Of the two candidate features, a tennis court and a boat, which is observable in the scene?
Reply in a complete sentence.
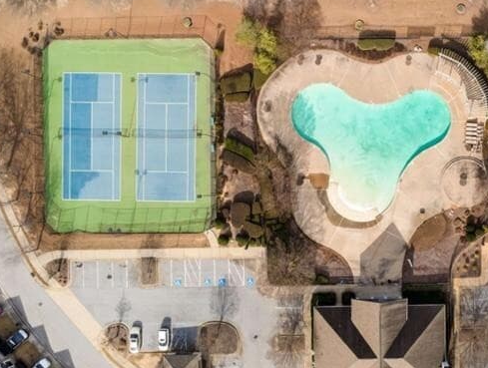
Visible in the photo is a tennis court.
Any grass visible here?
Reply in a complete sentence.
Yes, there is grass in the image.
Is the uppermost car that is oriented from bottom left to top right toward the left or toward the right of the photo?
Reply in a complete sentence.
The uppermost car that is oriented from bottom left to top right appears in the left half of the scene.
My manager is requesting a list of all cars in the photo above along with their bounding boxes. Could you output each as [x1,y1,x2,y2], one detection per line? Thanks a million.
[29,357,50,368]
[155,328,169,352]
[127,328,140,354]
[0,328,27,350]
